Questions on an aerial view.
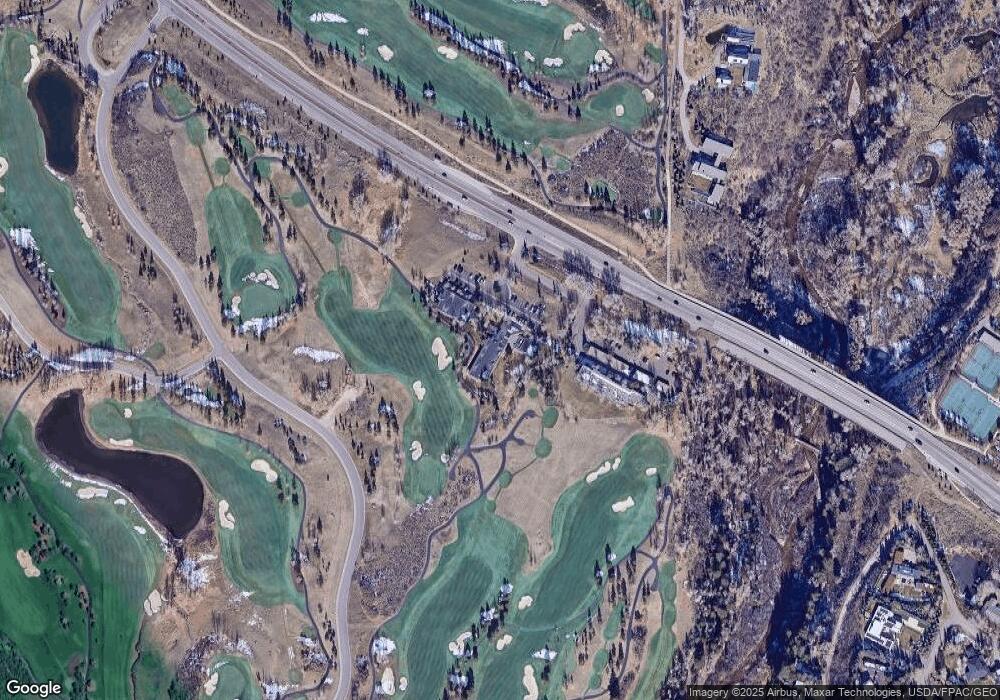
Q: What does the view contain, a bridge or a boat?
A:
bridge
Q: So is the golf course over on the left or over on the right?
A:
left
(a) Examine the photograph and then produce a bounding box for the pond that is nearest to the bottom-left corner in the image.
[36,390,203,537]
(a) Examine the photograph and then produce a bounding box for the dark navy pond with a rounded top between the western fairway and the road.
[27,61,82,174]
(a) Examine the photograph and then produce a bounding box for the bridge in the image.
[680,293,918,451]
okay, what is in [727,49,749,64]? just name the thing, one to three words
house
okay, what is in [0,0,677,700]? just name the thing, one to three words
golf course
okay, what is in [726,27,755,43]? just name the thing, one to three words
house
